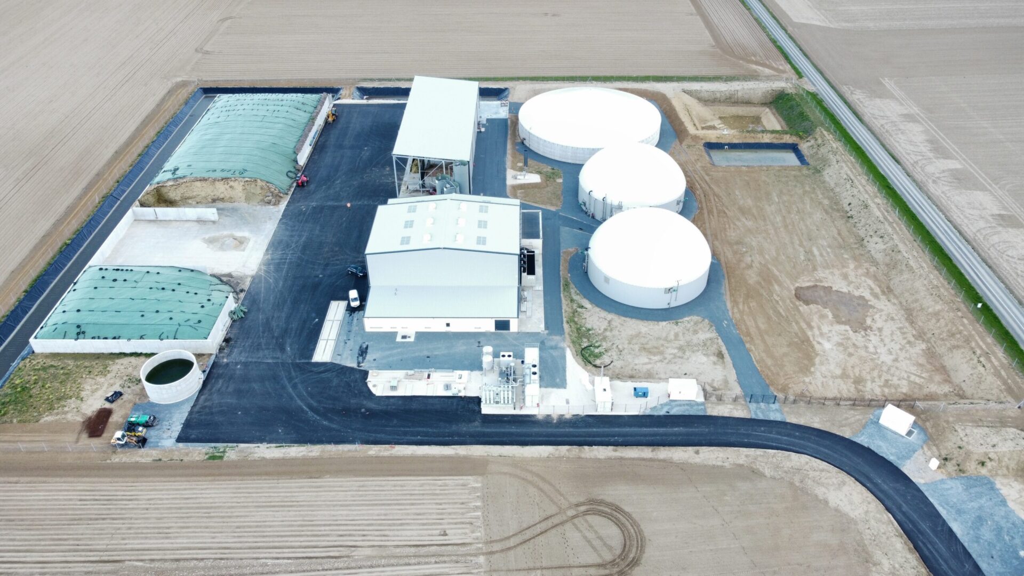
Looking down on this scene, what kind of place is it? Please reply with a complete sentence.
What you see here is an industrial area.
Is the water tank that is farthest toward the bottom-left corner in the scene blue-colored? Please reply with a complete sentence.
No, the water tank that is farthest toward the bottom-left corner is white.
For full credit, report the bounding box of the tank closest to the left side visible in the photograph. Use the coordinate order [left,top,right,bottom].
[139,349,204,405]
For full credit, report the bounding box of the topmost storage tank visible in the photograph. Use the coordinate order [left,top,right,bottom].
[518,87,662,164]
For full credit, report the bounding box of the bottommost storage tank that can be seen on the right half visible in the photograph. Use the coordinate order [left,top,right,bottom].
[584,207,712,309]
